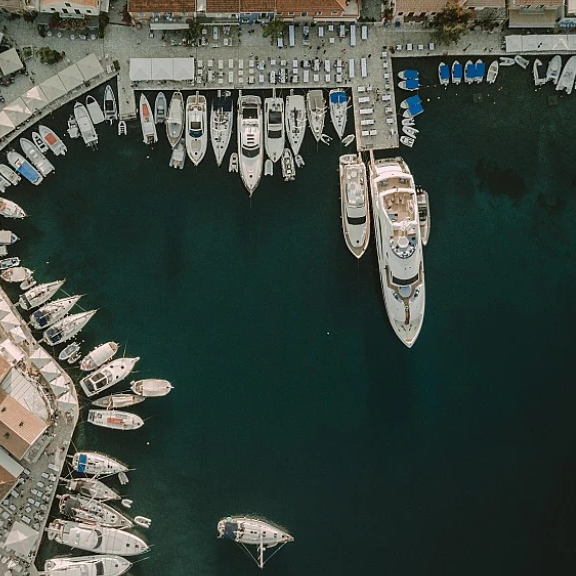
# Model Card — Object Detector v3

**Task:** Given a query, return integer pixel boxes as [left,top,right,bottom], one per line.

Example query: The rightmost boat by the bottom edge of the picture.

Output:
[220,519,296,570]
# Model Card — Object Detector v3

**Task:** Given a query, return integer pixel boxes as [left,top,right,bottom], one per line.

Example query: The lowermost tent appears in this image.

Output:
[6,520,42,559]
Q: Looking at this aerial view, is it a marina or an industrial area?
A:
marina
